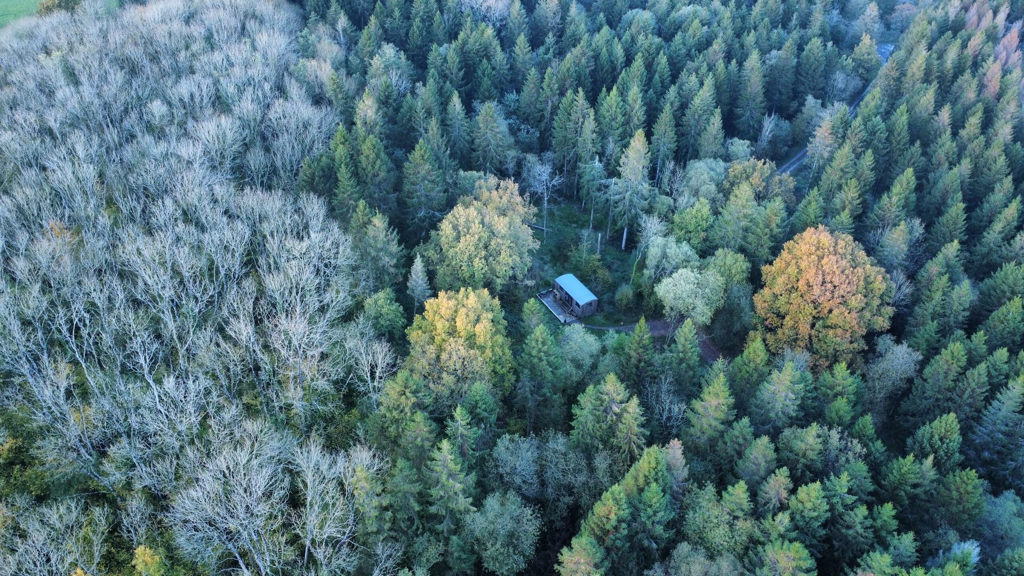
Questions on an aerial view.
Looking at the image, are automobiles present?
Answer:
No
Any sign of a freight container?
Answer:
No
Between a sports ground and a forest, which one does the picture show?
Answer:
forest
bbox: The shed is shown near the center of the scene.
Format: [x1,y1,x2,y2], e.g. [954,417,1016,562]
[554,272,598,318]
